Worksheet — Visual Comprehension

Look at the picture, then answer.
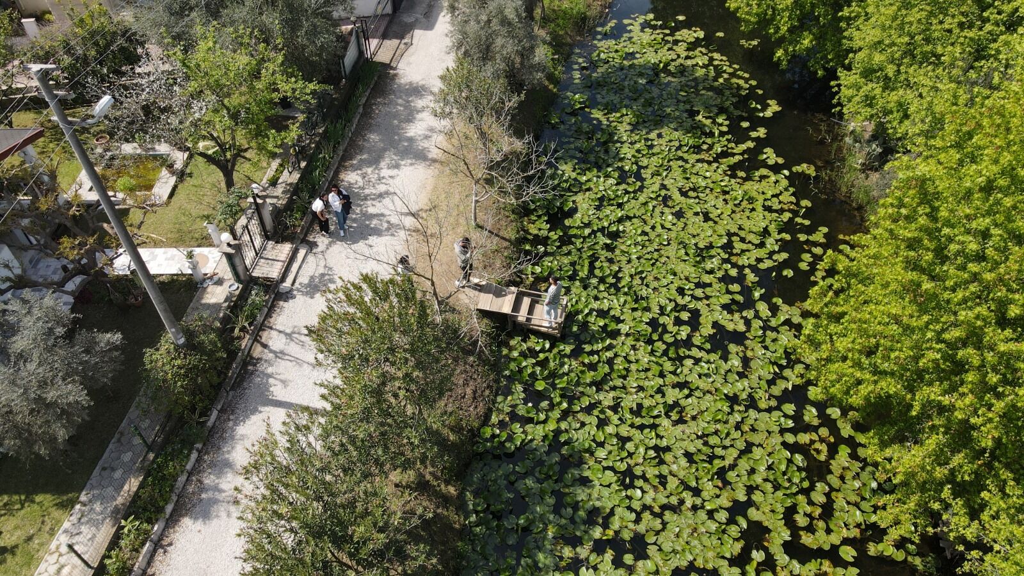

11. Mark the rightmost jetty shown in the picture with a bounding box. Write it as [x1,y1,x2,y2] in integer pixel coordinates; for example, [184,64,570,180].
[468,279,568,348]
